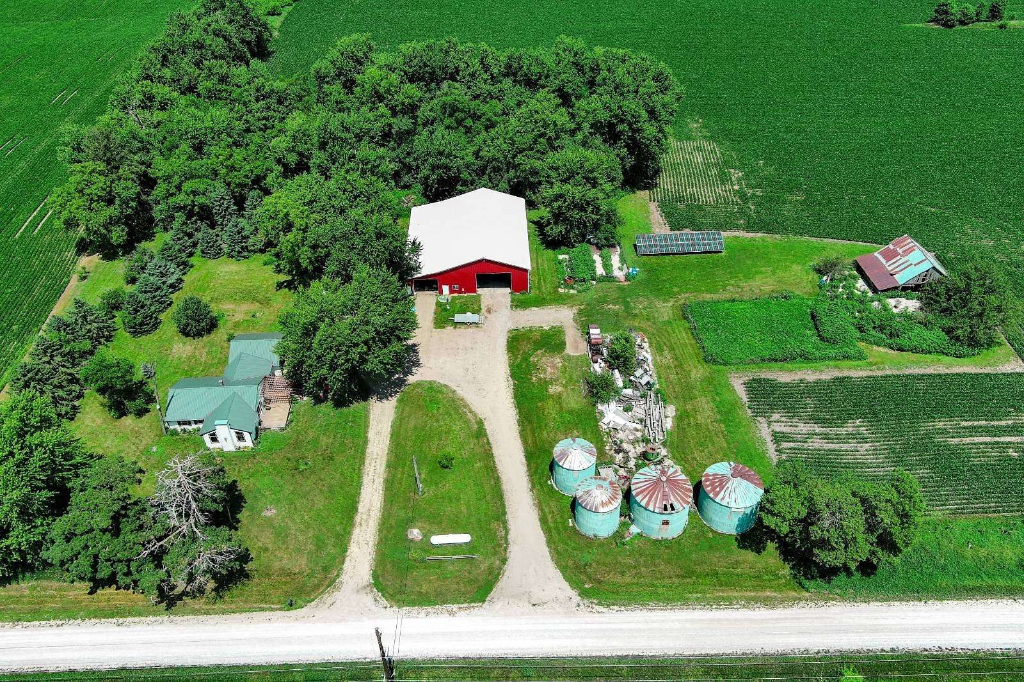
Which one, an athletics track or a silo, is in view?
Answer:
silo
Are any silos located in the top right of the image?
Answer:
No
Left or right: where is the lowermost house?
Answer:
left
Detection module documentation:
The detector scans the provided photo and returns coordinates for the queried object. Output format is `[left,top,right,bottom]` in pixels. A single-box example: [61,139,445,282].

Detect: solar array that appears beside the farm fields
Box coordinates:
[635,232,724,256]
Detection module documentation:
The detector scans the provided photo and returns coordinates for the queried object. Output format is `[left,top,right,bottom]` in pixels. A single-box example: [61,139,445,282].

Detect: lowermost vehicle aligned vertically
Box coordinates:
[587,324,604,362]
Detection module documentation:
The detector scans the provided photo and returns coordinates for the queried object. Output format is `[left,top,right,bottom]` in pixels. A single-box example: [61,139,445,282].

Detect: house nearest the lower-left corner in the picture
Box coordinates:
[165,332,297,449]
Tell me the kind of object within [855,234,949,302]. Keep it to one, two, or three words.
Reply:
barn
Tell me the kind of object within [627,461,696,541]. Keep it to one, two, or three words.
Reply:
silo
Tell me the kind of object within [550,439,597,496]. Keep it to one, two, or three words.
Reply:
silo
